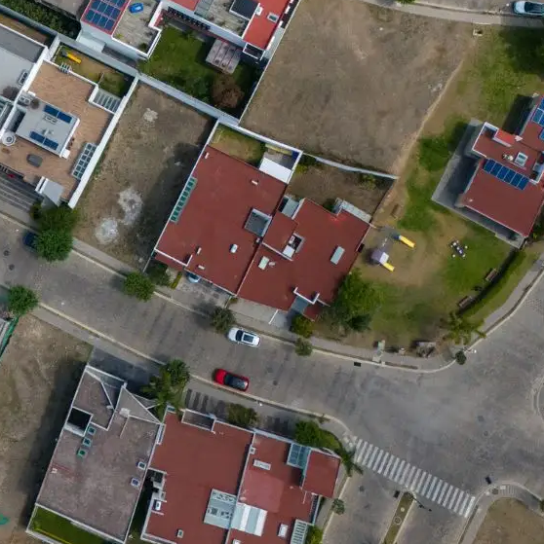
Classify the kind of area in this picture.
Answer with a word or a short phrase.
residential area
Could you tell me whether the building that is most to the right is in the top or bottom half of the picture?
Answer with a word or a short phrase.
top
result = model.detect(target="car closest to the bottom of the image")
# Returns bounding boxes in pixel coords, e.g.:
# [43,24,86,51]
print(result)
[213,368,249,391]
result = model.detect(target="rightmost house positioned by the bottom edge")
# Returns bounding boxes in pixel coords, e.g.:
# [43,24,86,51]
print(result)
[223,423,341,544]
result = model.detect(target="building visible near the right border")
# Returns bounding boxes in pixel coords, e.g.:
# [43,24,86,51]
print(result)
[454,93,544,238]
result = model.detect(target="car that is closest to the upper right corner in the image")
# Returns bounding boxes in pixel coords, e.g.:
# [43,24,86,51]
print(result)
[512,0,544,16]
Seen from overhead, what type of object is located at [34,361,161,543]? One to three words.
house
